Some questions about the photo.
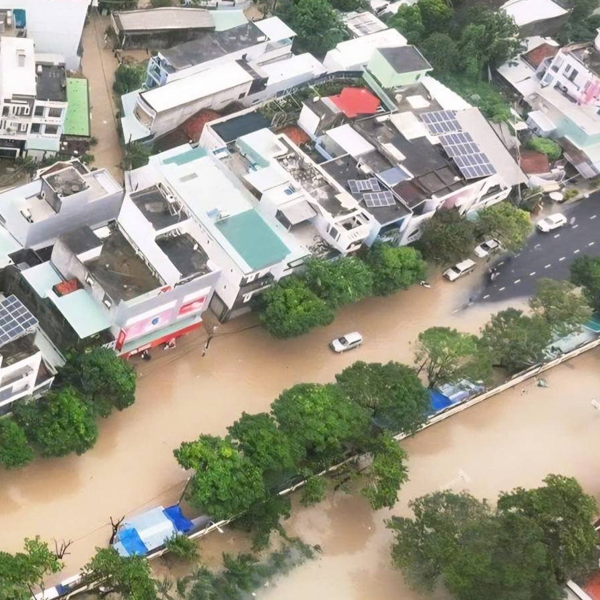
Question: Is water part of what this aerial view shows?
Yes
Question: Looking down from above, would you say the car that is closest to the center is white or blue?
white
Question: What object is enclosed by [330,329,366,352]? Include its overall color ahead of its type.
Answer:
white car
